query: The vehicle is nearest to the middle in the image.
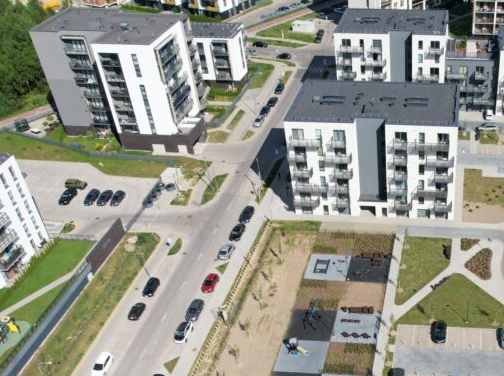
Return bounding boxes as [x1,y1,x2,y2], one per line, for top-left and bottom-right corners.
[239,208,254,223]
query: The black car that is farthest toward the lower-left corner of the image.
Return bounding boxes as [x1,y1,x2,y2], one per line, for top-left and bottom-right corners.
[127,301,147,322]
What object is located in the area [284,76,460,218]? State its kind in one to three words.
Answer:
building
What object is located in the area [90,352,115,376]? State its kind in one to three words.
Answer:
car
